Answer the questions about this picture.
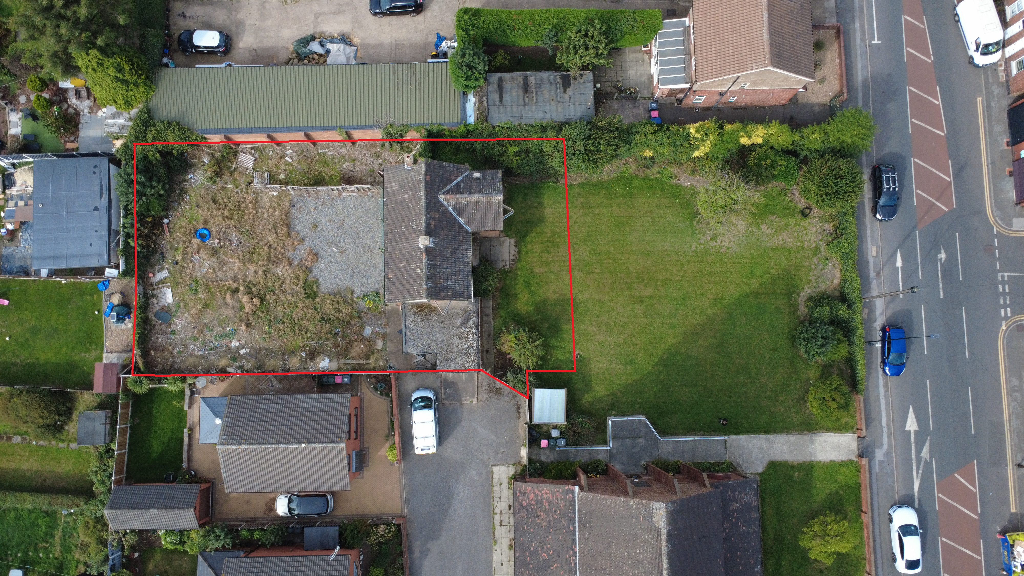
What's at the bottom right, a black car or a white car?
white car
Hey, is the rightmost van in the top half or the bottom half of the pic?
top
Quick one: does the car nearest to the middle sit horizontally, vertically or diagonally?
vertically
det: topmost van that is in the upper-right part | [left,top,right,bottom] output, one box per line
[950,0,1005,70]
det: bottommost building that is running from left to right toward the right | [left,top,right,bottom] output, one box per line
[513,463,762,576]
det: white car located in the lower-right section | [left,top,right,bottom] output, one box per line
[886,505,922,572]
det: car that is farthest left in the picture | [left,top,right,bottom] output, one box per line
[179,25,234,56]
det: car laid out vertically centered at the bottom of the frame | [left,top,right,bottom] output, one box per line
[409,389,439,454]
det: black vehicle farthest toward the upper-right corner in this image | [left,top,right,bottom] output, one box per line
[868,167,901,223]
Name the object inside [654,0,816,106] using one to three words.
house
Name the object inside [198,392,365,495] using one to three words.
house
